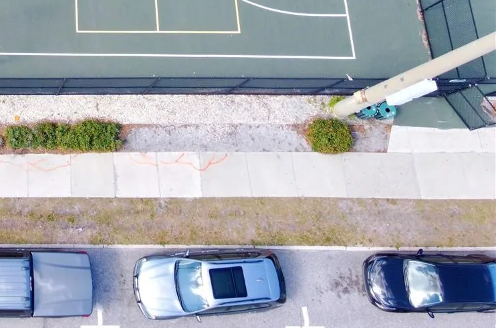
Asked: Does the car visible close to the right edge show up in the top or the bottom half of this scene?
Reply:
bottom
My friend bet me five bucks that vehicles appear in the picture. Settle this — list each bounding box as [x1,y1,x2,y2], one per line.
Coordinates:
[0,251,93,314]
[358,245,496,324]
[134,244,285,326]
